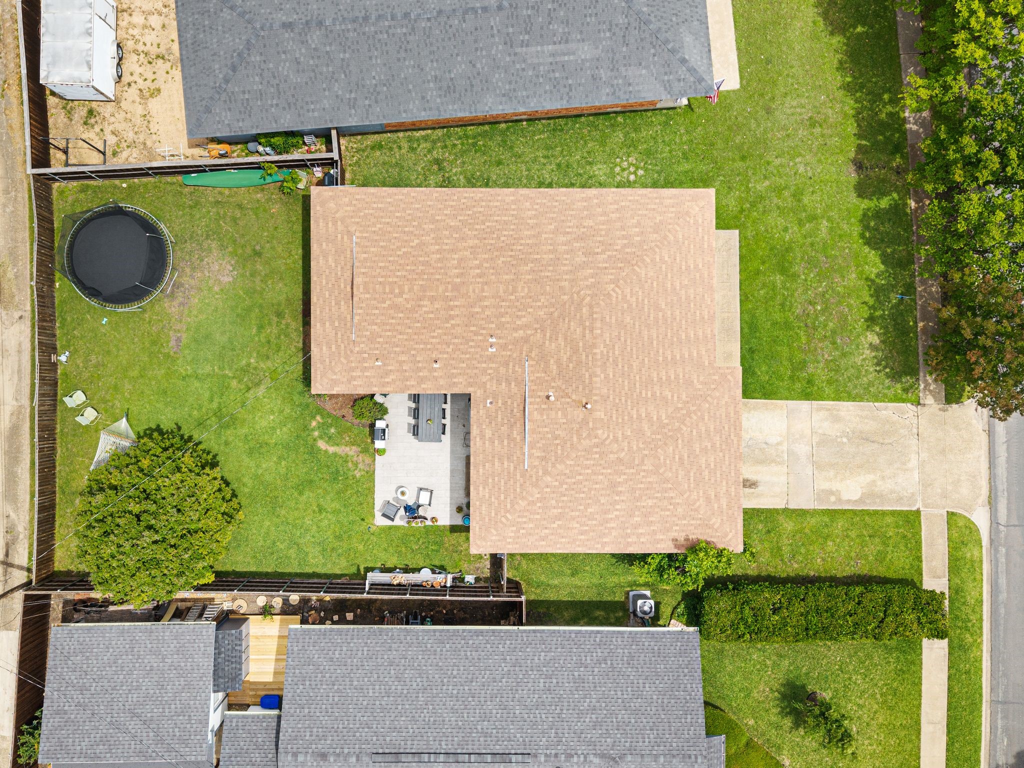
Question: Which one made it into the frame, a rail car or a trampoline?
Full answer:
Visible in the photo is a trampoline.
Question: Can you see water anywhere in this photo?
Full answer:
No, there is no water in the image.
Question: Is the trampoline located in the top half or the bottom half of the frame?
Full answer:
The trampoline is in the top half of the image.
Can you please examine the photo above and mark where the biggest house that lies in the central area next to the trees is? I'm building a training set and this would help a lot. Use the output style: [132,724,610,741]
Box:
[311,187,742,553]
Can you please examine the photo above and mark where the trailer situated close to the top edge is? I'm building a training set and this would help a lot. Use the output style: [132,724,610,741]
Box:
[40,0,128,101]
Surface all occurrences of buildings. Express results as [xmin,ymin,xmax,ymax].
[176,0,714,143]
[311,187,742,553]
[36,621,229,768]
[278,623,728,768]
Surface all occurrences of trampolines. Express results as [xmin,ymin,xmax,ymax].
[49,199,179,312]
